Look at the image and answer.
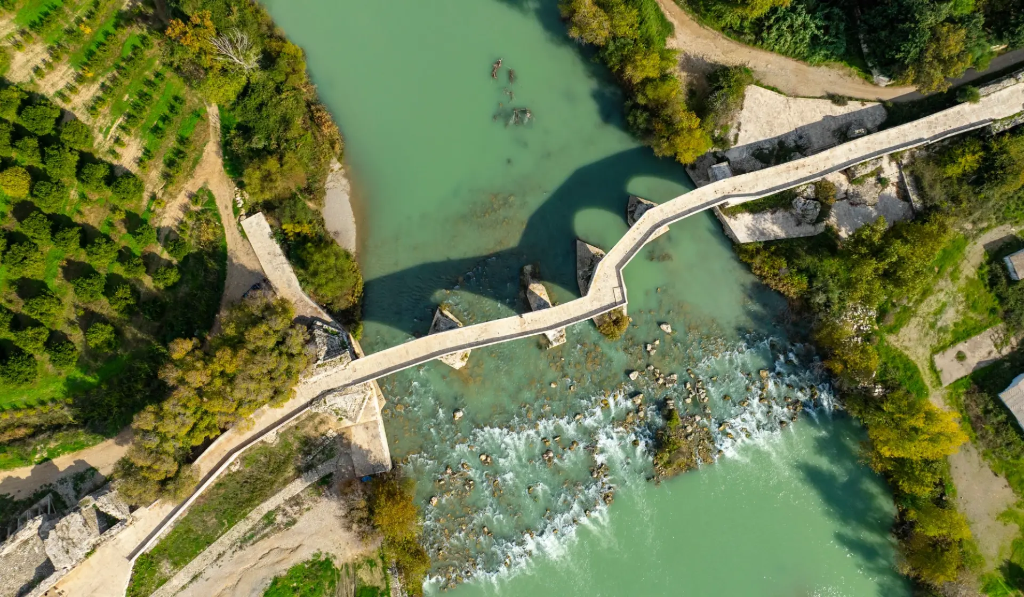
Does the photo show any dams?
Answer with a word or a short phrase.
No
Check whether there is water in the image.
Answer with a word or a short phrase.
Yes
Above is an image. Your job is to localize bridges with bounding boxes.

[105,82,1024,561]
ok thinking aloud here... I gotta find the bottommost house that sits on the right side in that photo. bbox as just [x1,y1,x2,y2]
[991,371,1024,442]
